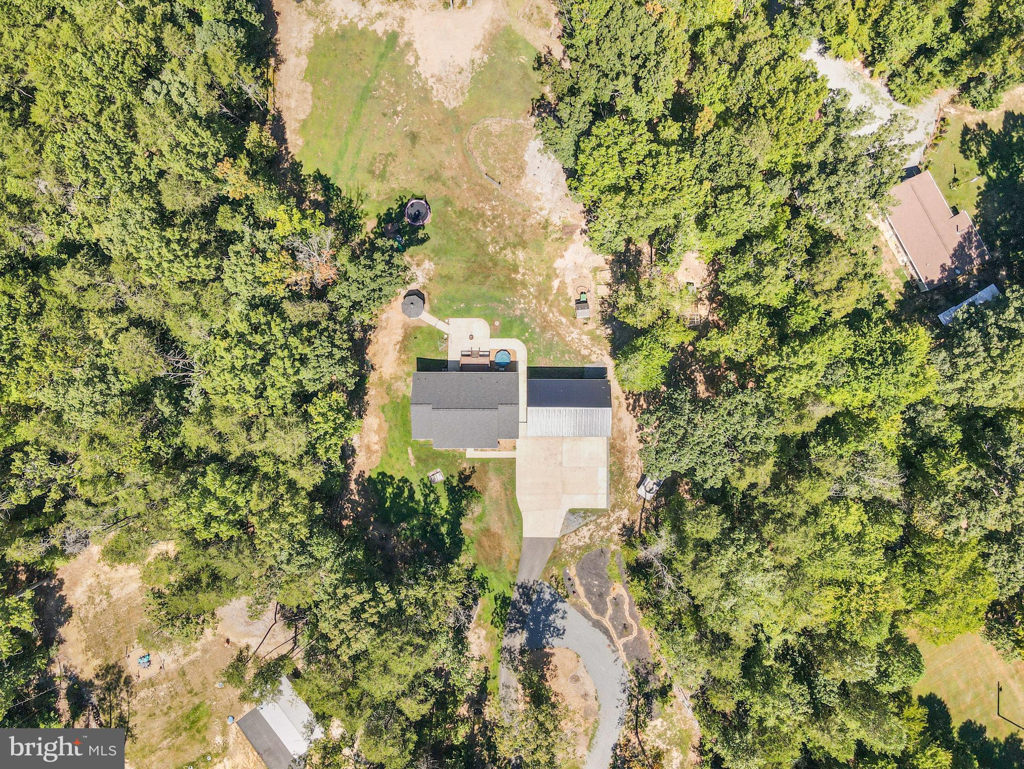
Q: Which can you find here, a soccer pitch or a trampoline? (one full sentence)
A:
Looking from above, you can make out a trampoline.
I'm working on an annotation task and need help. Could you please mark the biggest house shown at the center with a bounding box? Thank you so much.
[411,371,519,449]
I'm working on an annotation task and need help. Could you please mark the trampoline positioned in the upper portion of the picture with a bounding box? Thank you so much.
[404,194,430,227]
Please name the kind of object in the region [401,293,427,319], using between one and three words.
gazebo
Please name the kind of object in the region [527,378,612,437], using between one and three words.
building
